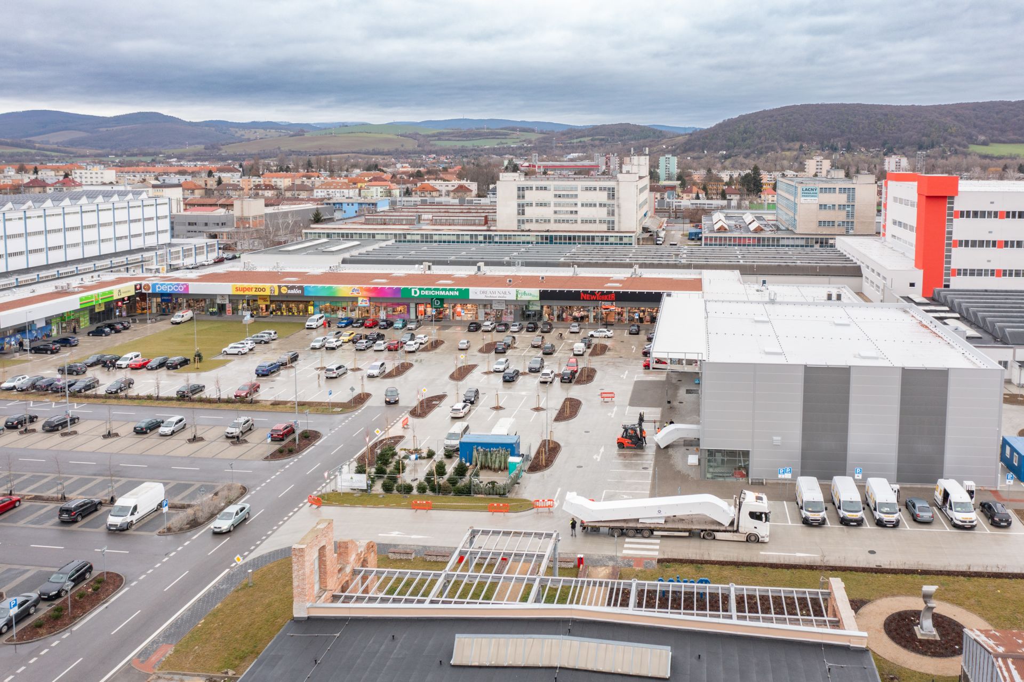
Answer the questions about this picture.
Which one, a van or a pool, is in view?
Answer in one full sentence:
There is a van in the scene.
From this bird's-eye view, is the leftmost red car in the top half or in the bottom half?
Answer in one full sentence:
The leftmost red car sits in the bottom half of the picture.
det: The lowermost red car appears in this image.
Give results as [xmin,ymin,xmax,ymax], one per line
[0,493,22,513]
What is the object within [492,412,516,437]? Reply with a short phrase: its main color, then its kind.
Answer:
white vehicle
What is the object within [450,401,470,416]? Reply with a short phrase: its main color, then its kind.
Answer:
white car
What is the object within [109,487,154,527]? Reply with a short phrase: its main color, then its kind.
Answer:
white van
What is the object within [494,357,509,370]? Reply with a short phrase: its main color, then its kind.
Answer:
white vehicle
